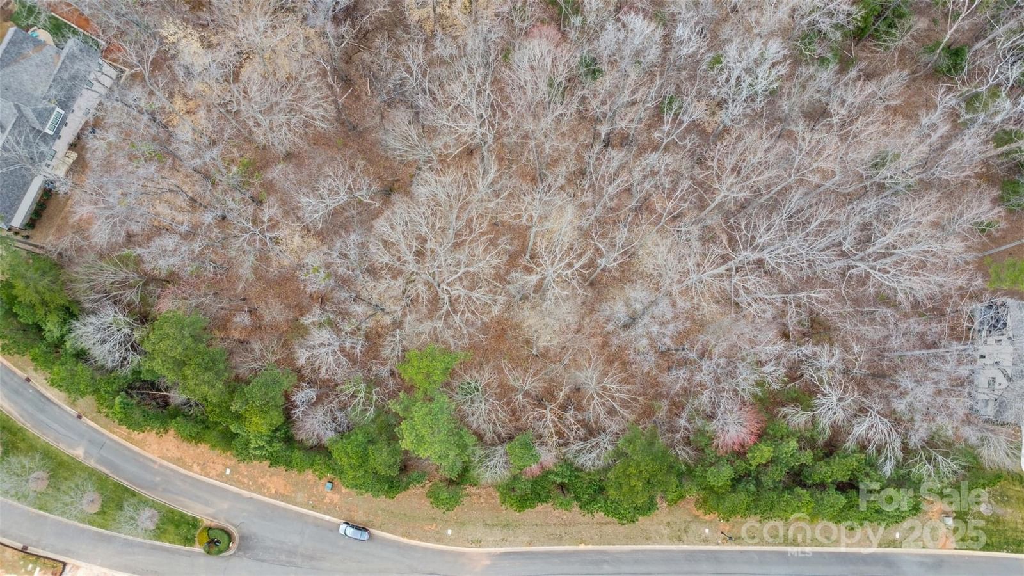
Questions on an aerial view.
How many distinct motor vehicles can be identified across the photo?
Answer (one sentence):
Altogether the scene contains 1 motor vehicle.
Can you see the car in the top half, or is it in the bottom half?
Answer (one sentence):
Seen from above, the car lies in the bottom half of the view.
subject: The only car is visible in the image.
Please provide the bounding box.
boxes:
[337,523,370,544]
